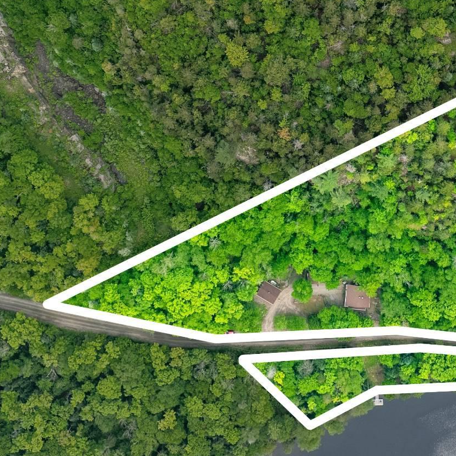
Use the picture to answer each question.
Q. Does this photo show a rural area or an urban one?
rural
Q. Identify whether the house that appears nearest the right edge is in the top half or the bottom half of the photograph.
bottom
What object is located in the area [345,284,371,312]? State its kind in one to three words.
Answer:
house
